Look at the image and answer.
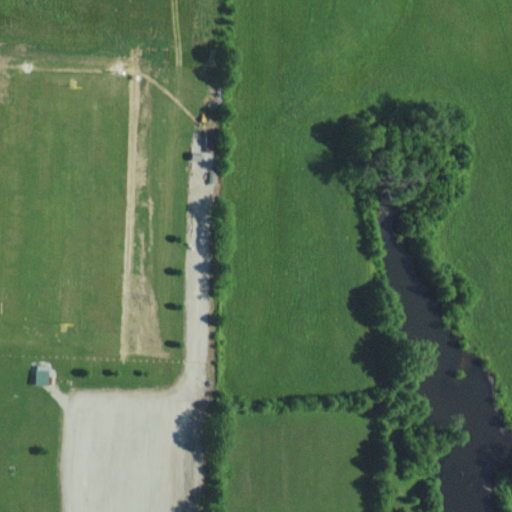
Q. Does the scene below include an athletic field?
Yes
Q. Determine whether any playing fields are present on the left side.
Yes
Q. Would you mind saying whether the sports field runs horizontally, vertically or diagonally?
vertically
